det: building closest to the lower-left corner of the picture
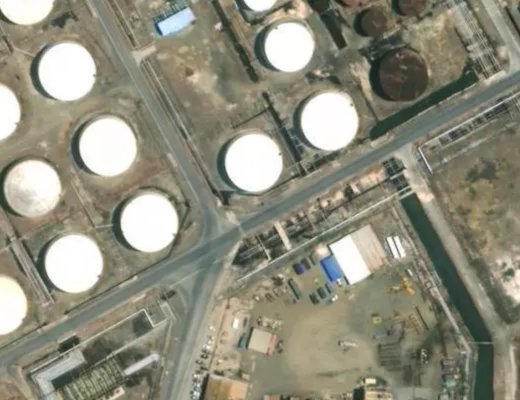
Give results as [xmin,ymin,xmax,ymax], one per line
[32,347,86,400]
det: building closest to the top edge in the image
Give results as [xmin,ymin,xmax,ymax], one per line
[156,6,197,37]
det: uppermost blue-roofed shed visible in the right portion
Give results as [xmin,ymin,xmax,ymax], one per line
[320,254,344,282]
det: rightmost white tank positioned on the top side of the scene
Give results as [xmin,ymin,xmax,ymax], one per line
[299,91,361,153]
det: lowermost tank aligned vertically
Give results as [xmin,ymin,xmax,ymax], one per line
[0,275,28,337]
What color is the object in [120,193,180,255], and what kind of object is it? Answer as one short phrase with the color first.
white storage tank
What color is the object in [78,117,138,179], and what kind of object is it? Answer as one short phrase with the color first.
white storage tank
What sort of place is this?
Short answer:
industrial area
